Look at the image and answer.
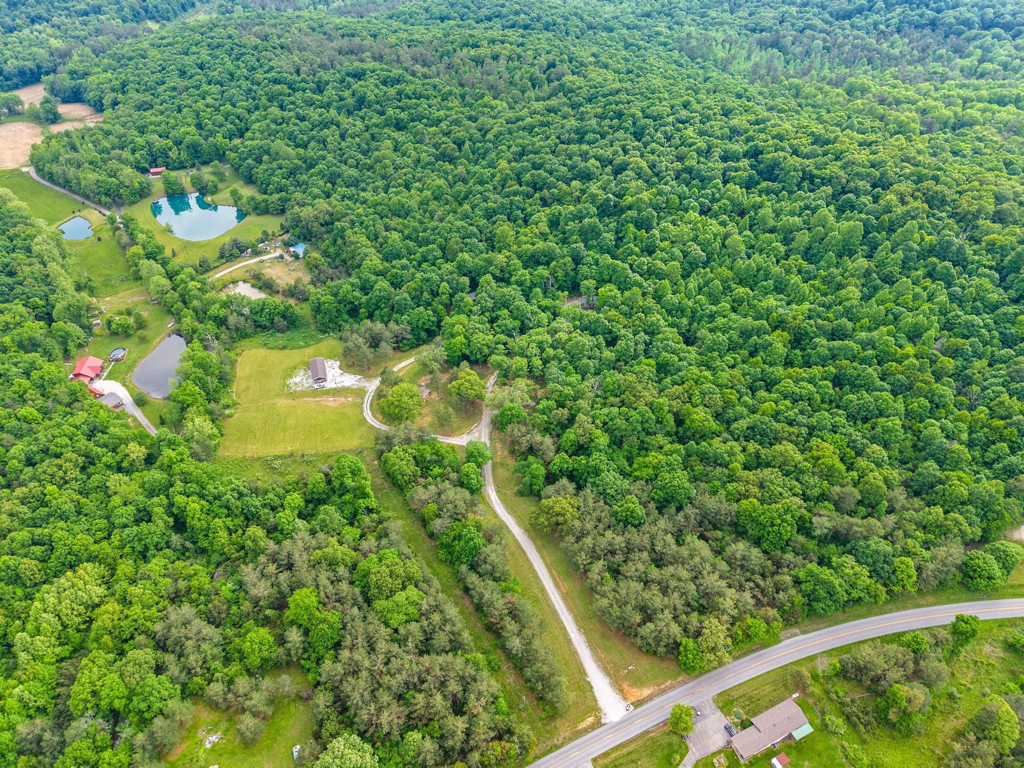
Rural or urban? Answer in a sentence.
From above, the setting appears rural.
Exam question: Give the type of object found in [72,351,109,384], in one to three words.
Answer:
house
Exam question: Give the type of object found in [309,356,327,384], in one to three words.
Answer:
barn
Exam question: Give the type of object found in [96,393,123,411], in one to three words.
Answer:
building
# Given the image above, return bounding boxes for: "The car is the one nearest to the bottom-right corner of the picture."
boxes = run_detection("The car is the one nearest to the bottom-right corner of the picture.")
[722,718,738,736]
